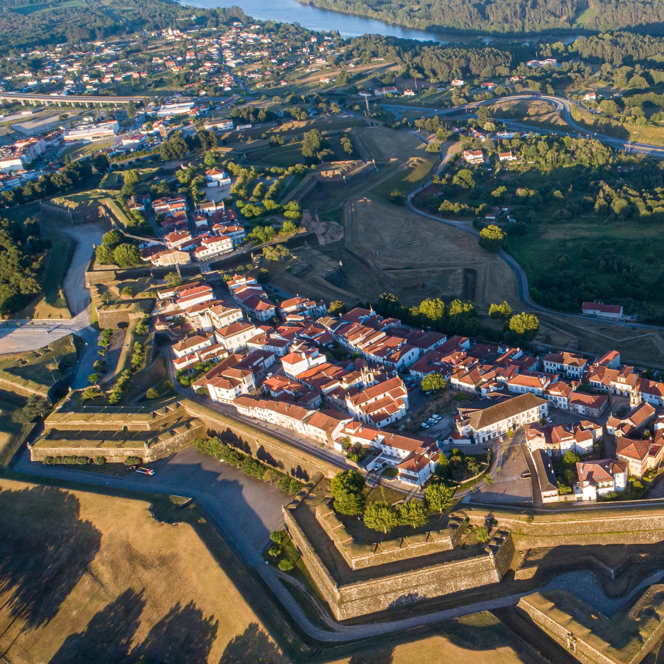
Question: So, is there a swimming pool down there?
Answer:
No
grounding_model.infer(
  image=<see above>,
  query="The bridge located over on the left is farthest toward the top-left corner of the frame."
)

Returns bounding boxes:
[0,93,152,107]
